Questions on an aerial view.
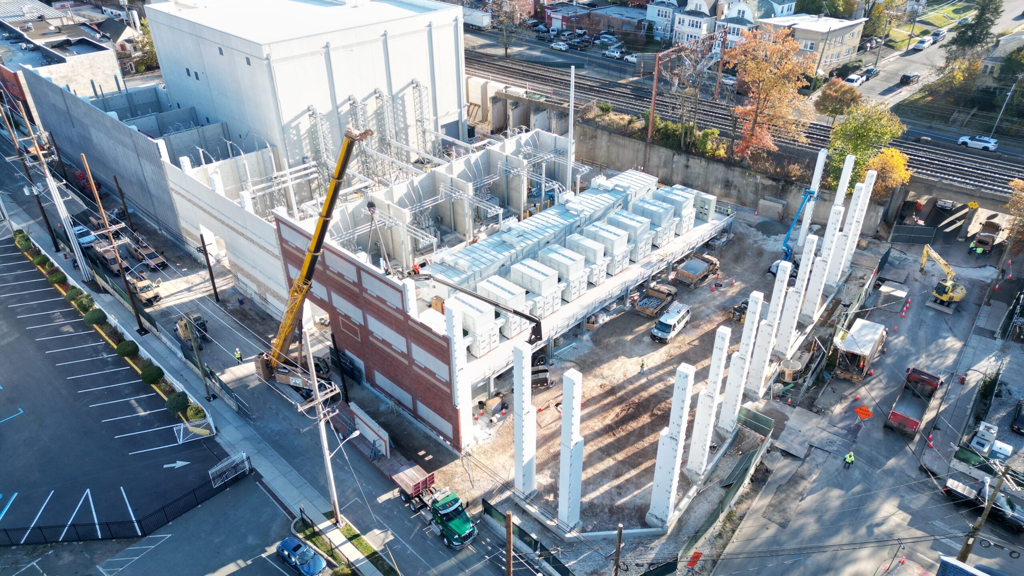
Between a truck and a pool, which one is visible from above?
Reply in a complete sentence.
This aerial view contains a truck.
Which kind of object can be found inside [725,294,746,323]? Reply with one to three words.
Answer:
work vehicle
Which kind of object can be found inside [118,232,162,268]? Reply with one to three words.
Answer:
truck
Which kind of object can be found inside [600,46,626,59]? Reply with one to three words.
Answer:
vehicle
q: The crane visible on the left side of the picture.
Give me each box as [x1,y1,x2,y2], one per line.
[249,112,377,422]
